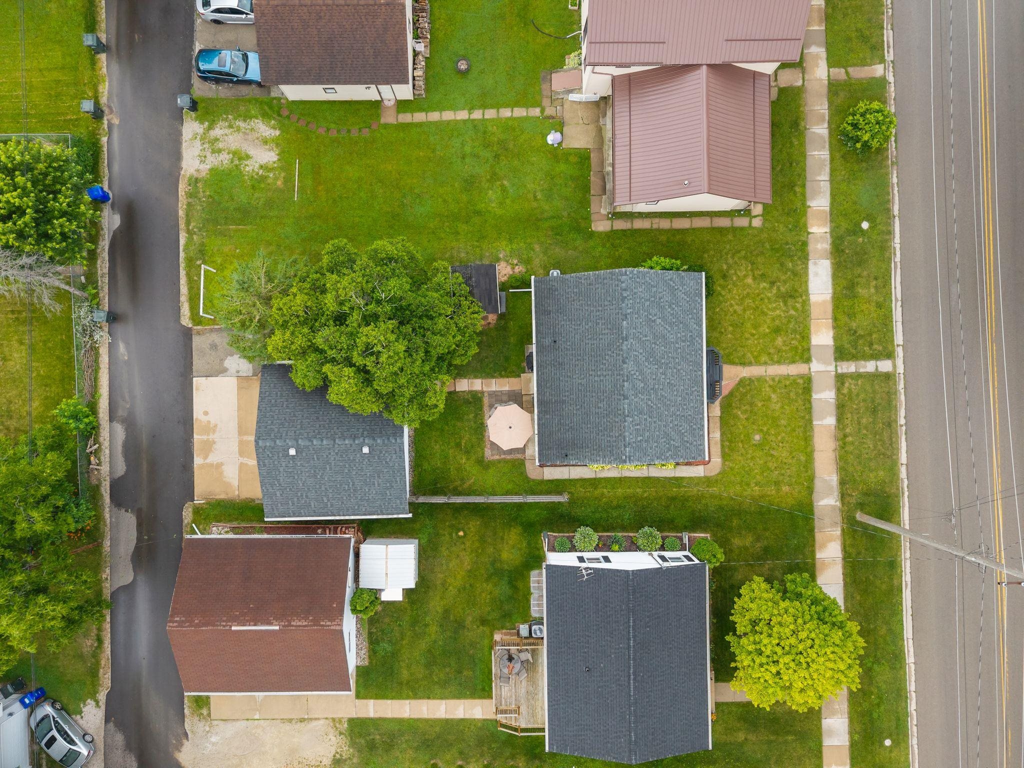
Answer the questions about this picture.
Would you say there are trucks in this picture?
No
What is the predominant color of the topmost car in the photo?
white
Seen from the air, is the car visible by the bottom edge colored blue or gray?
gray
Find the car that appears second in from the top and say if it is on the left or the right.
left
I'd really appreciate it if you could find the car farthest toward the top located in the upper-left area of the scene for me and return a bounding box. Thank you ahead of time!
[196,0,253,23]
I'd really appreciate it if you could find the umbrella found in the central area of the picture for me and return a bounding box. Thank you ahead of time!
[487,403,533,449]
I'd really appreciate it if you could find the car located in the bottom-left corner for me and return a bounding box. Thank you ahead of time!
[28,697,98,768]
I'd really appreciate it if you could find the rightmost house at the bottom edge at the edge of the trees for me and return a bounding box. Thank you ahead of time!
[541,537,713,768]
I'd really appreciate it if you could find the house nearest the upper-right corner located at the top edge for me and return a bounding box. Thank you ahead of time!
[583,0,816,214]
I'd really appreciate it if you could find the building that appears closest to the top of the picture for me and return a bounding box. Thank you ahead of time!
[250,0,414,100]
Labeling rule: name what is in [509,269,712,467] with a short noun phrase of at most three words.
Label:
house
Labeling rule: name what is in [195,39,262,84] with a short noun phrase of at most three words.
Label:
car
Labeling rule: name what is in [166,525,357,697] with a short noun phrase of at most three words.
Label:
building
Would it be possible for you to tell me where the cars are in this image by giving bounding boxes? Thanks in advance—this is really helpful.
[196,0,253,23]
[28,697,98,768]
[195,39,262,84]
